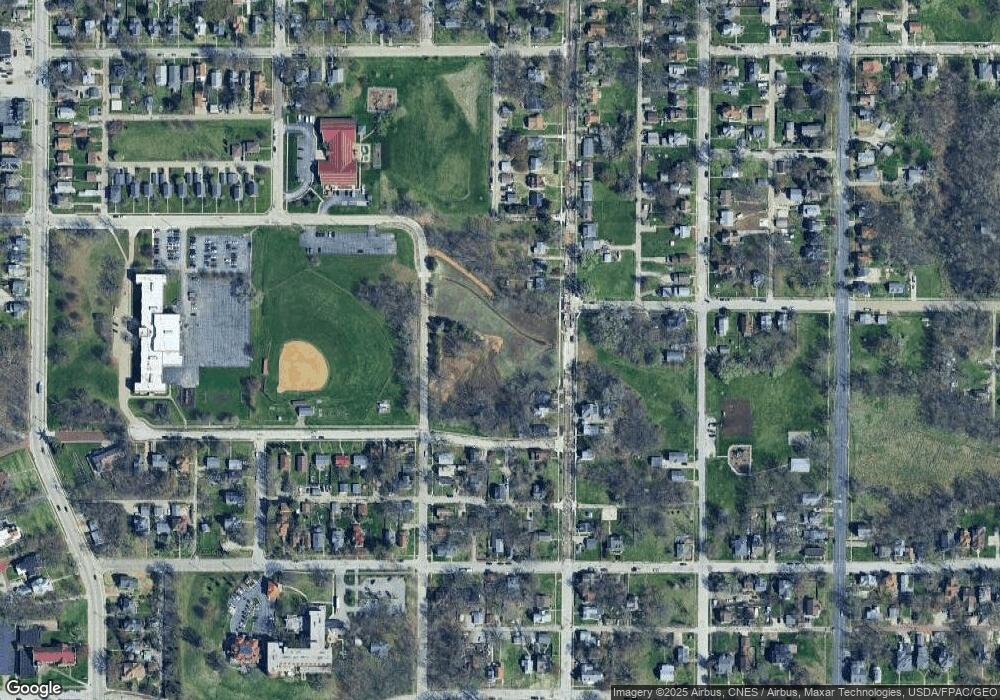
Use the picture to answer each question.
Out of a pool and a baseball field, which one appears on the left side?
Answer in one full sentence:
What appears on the left side is a baseball field.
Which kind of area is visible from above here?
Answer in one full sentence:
It's a residential area.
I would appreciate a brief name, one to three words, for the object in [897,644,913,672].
house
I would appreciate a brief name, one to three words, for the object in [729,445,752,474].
playground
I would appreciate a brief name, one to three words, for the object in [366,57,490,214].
sports field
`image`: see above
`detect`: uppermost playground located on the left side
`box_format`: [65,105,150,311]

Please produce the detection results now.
[367,88,397,112]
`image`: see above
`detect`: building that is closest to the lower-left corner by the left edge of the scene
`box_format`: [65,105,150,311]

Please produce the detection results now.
[20,630,75,679]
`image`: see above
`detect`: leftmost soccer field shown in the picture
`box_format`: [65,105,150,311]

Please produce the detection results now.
[200,368,247,424]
